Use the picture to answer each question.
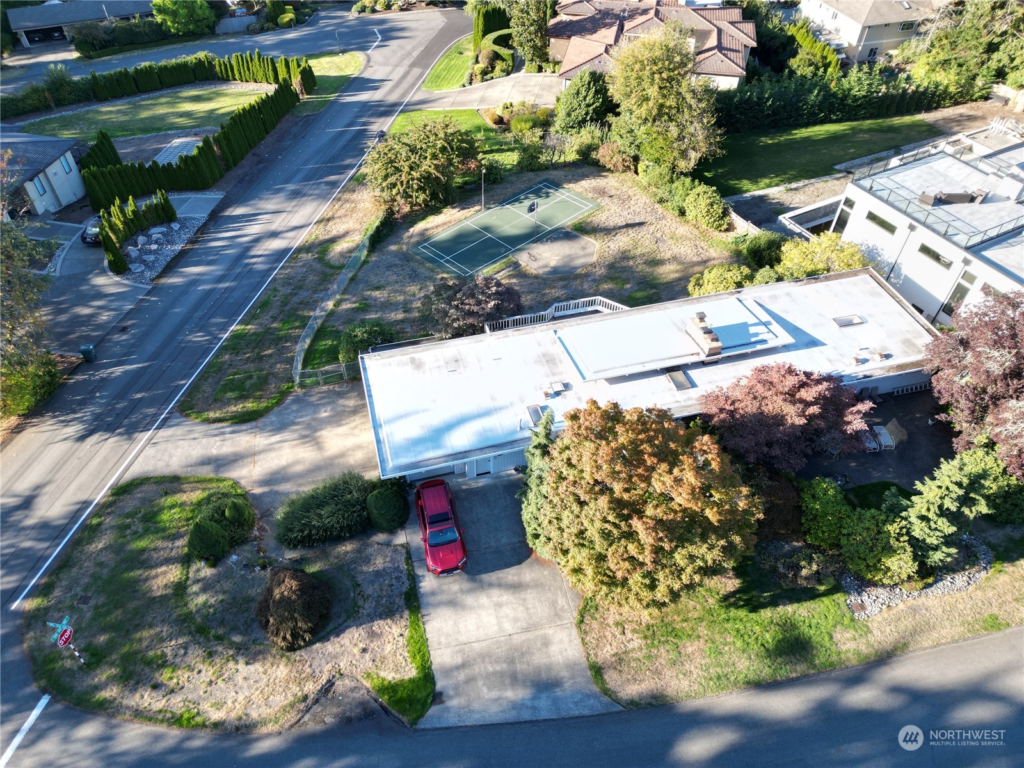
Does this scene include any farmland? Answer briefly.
No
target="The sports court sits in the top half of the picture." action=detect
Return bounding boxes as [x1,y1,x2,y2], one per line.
[399,173,611,279]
